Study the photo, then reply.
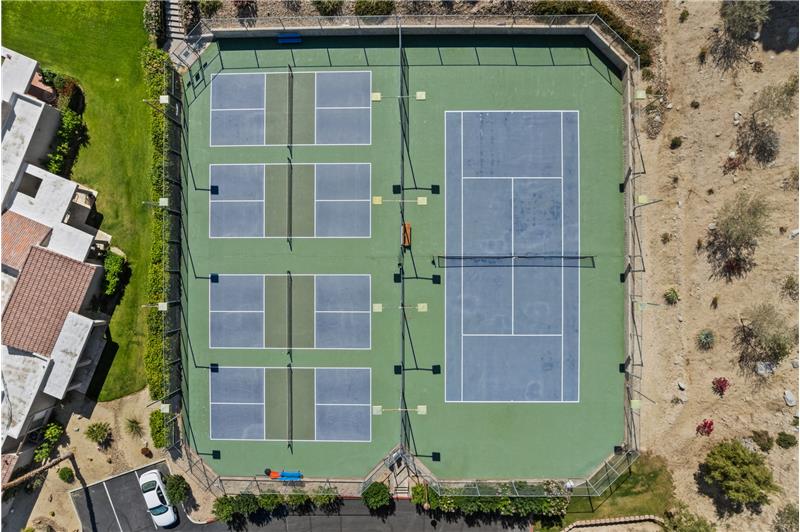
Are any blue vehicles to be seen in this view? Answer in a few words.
No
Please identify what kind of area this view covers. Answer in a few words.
sports ground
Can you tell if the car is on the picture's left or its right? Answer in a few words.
left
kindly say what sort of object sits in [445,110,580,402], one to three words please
tennis court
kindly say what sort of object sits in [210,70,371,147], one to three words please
sports court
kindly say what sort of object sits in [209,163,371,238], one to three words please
sports court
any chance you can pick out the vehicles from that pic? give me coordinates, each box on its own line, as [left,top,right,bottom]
[140,470,178,529]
